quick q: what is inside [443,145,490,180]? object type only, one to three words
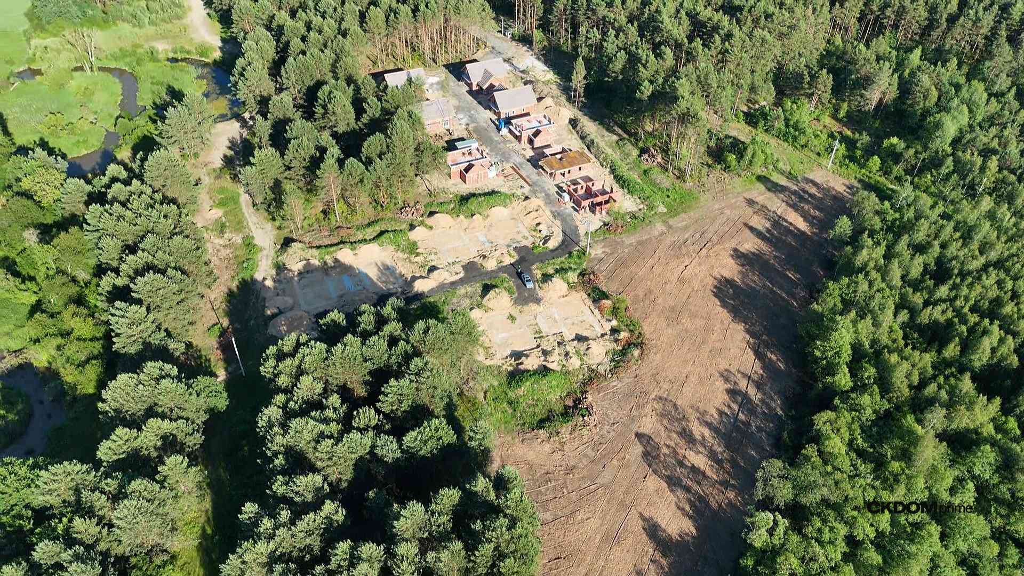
house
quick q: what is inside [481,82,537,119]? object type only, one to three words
house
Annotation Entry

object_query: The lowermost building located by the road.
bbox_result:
[567,177,622,214]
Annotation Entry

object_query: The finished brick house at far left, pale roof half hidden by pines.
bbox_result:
[381,67,427,99]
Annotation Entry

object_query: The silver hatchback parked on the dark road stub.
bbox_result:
[519,271,535,287]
